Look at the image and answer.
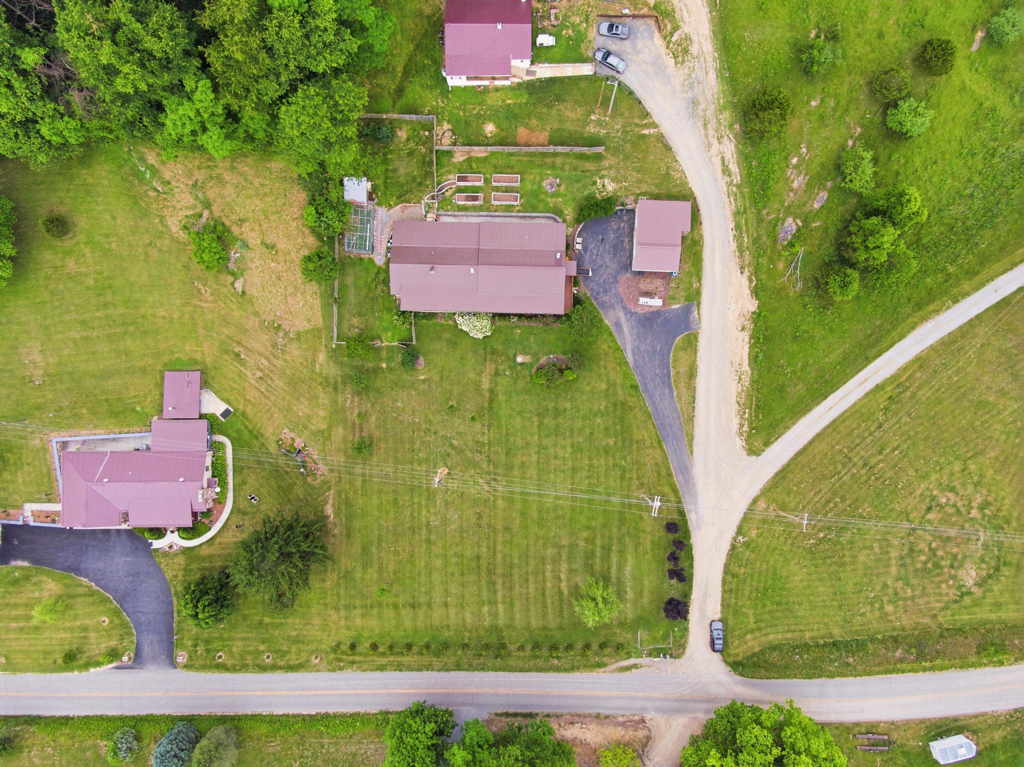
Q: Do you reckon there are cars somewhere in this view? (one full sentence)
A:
Yes, the frame does contain a car.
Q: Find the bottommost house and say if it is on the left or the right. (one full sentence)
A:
The bottommost house appears in the left half of the scene.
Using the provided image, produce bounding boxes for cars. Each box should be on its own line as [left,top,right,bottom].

[709,619,725,652]
[599,20,629,38]
[595,49,626,71]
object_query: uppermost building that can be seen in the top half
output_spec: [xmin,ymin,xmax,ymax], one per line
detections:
[444,0,532,91]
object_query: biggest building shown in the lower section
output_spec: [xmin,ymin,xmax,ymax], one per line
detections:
[62,420,234,529]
